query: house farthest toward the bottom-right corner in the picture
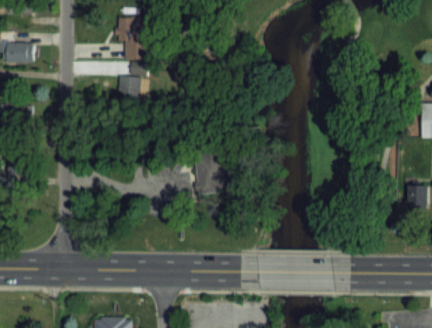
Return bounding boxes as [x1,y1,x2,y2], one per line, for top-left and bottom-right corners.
[408,186,431,208]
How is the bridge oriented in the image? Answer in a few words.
from side to side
